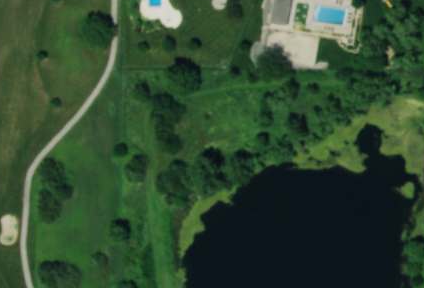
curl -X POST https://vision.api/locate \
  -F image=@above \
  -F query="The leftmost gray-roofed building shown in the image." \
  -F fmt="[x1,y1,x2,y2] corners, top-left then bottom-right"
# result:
[272,0,293,26]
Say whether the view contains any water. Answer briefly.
Yes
